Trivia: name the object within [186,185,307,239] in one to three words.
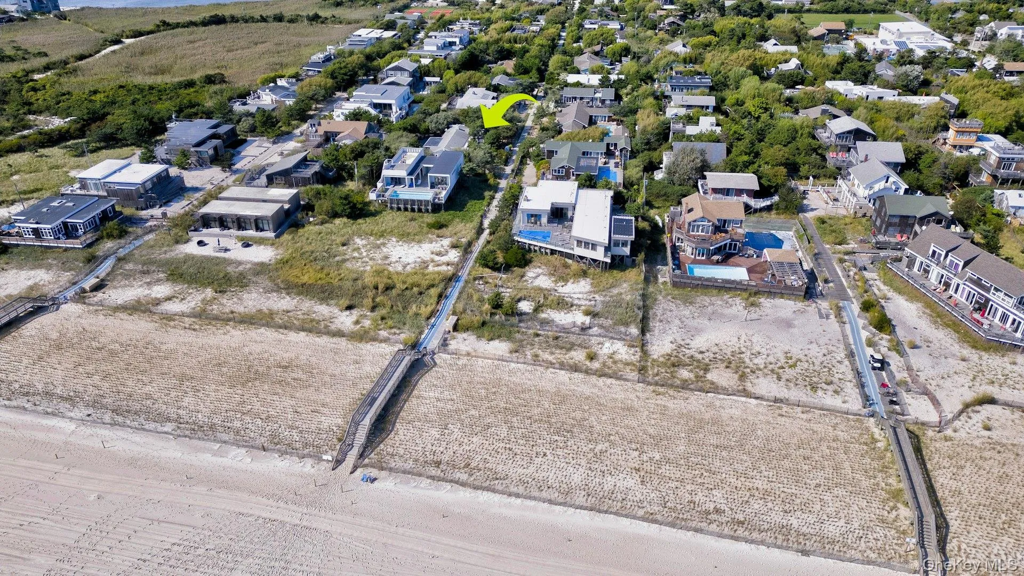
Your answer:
house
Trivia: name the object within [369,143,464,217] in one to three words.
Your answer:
house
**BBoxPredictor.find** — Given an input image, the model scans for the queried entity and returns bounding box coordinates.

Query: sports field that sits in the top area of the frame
[811,13,905,27]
